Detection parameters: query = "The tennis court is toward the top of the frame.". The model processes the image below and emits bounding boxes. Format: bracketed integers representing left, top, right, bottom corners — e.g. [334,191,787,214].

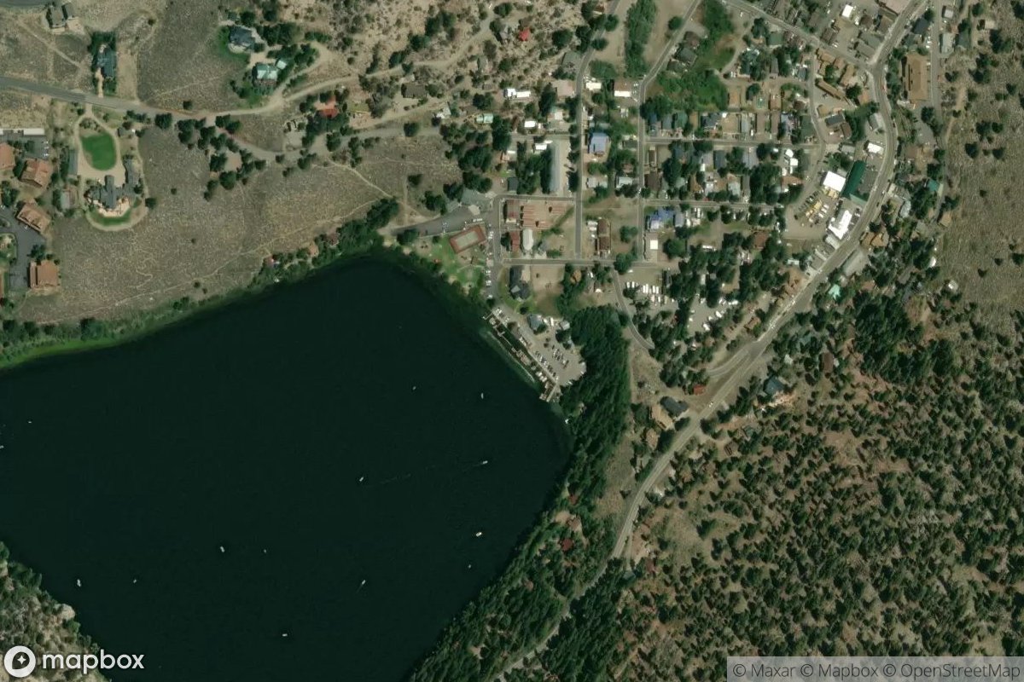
[450,224,486,253]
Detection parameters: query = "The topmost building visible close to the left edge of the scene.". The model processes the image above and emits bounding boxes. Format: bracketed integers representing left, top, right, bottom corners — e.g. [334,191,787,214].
[47,3,76,27]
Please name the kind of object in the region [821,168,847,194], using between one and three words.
building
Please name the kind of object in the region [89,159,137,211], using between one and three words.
house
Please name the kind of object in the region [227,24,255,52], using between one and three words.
house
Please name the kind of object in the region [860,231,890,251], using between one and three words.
building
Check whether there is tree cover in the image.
Yes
